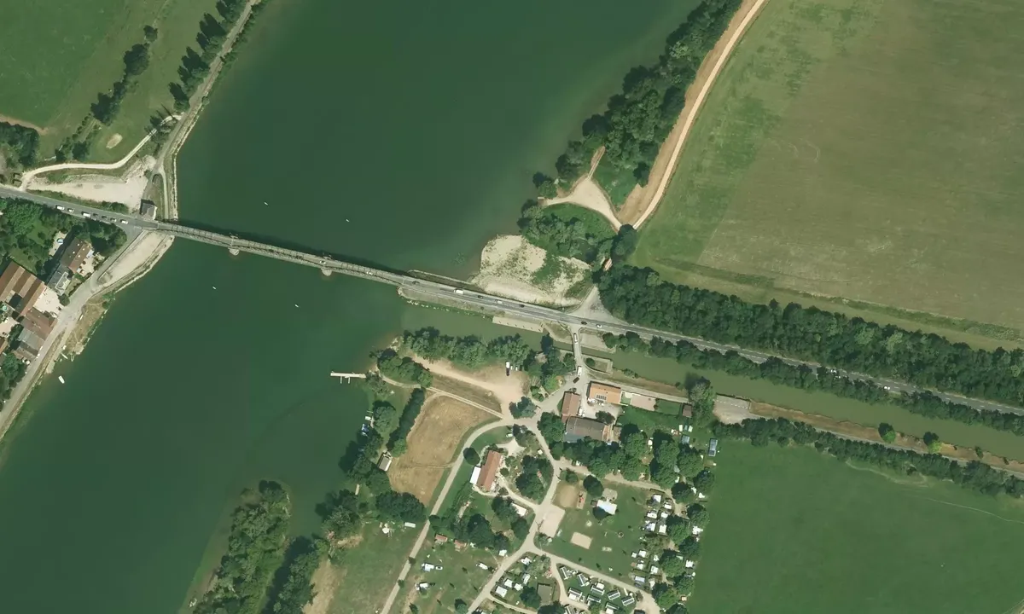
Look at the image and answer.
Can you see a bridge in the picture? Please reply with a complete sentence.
Yes, I can see a bridge in this picture.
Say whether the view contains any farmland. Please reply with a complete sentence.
Yes, there's farmland in this view.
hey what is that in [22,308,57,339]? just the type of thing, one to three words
house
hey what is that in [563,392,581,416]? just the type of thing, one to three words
house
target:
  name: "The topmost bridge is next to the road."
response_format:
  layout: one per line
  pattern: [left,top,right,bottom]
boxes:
[163,222,409,289]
